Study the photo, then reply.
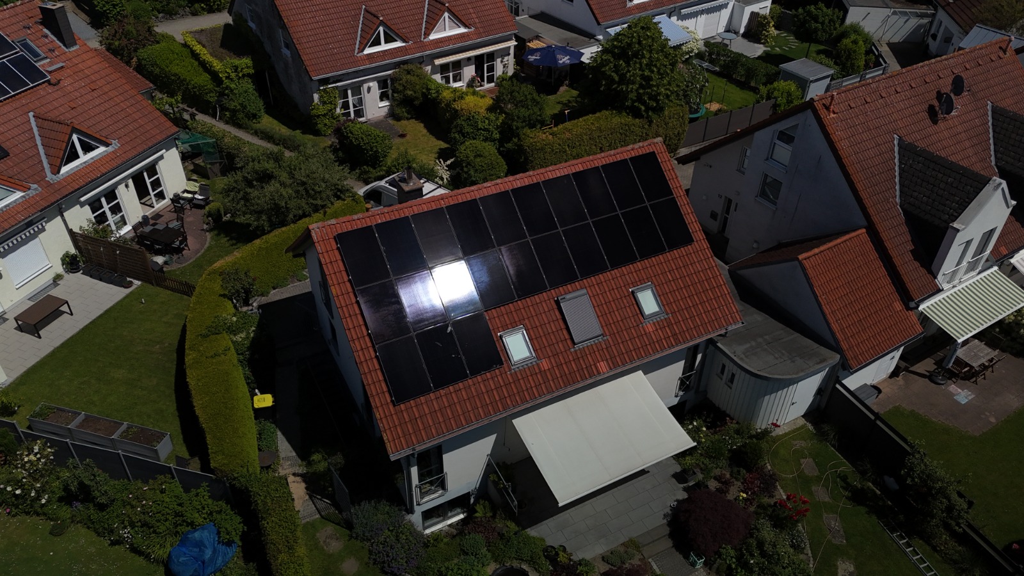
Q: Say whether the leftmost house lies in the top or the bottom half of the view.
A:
top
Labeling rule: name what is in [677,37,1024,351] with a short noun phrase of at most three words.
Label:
house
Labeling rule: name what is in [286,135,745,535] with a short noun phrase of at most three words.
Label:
house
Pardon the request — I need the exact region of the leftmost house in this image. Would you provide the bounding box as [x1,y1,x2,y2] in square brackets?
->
[0,0,194,311]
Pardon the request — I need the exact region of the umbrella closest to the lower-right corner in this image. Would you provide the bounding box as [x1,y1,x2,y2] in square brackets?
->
[924,327,958,387]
